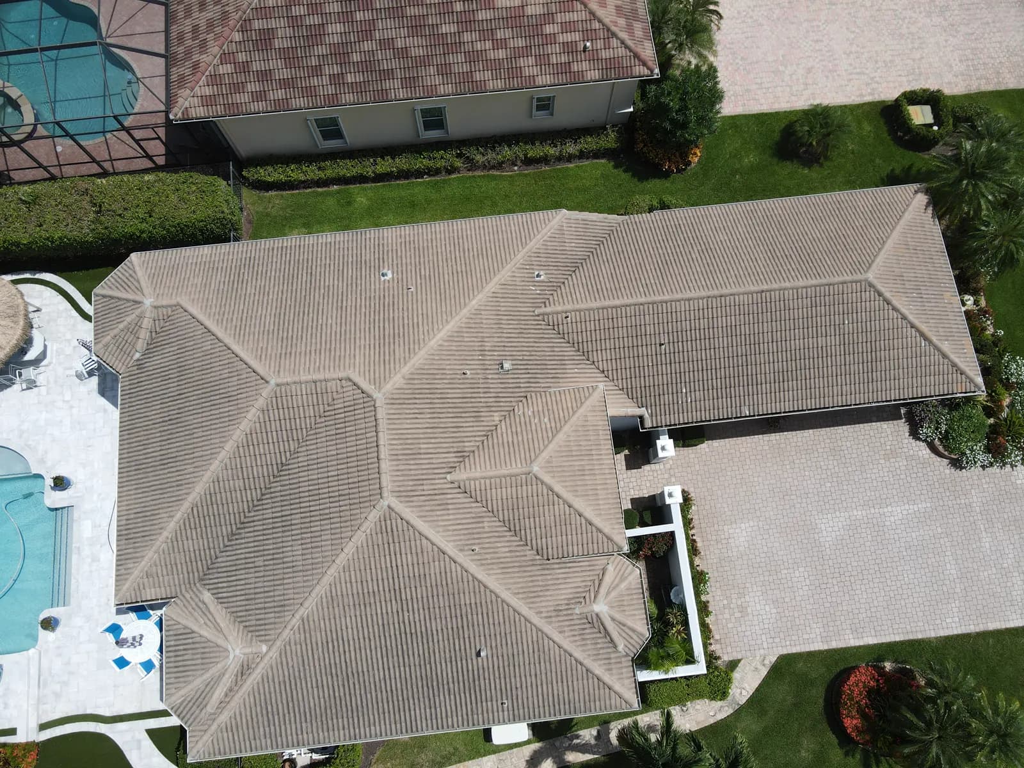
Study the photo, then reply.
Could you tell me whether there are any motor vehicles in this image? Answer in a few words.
No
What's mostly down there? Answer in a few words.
buildings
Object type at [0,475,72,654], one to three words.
swimming pool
